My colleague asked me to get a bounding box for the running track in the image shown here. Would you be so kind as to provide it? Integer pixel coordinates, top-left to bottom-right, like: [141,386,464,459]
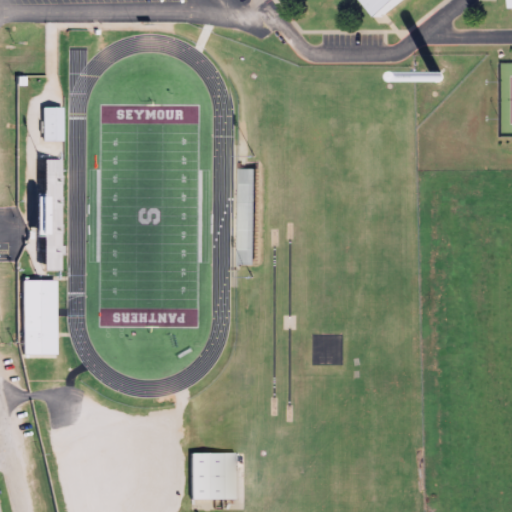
[68,35,234,397]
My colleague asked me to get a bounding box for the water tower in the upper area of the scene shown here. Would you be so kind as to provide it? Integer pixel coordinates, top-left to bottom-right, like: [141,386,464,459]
[382,70,445,84]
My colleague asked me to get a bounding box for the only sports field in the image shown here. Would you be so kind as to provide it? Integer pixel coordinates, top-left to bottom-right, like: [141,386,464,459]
[86,53,212,378]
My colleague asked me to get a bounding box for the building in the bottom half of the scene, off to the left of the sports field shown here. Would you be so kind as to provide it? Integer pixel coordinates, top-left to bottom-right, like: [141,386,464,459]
[23,279,62,356]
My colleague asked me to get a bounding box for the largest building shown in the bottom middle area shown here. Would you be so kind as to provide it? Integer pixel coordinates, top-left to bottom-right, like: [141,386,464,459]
[192,454,239,500]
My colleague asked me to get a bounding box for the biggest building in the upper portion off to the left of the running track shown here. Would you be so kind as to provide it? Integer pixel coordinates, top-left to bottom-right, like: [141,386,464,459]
[42,107,68,142]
